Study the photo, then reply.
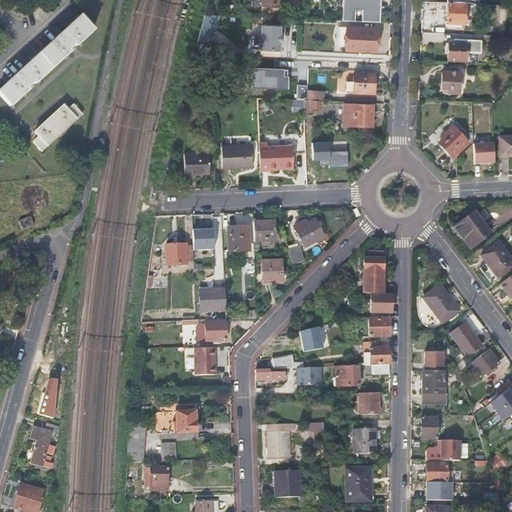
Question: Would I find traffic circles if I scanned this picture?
Yes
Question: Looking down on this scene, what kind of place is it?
residential area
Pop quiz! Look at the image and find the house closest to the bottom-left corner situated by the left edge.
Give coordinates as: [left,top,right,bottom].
[14,480,47,512]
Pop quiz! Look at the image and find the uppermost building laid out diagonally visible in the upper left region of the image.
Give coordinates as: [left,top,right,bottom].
[0,12,98,109]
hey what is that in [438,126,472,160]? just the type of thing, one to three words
house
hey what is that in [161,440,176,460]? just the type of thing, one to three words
building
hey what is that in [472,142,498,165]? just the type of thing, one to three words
house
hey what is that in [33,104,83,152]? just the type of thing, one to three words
building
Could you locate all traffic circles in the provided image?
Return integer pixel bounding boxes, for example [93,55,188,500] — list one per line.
[352,146,450,241]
